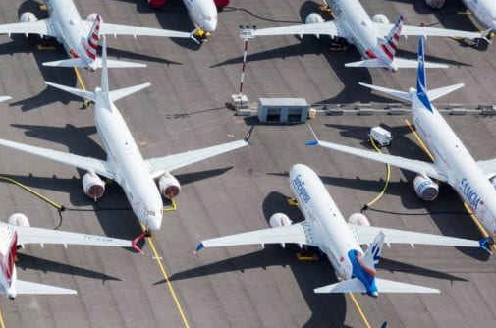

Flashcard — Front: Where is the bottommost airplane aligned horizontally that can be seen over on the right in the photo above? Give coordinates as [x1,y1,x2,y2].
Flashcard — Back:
[197,163,493,299]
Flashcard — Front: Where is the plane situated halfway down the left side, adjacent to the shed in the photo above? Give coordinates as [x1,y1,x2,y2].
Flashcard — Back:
[0,35,253,234]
